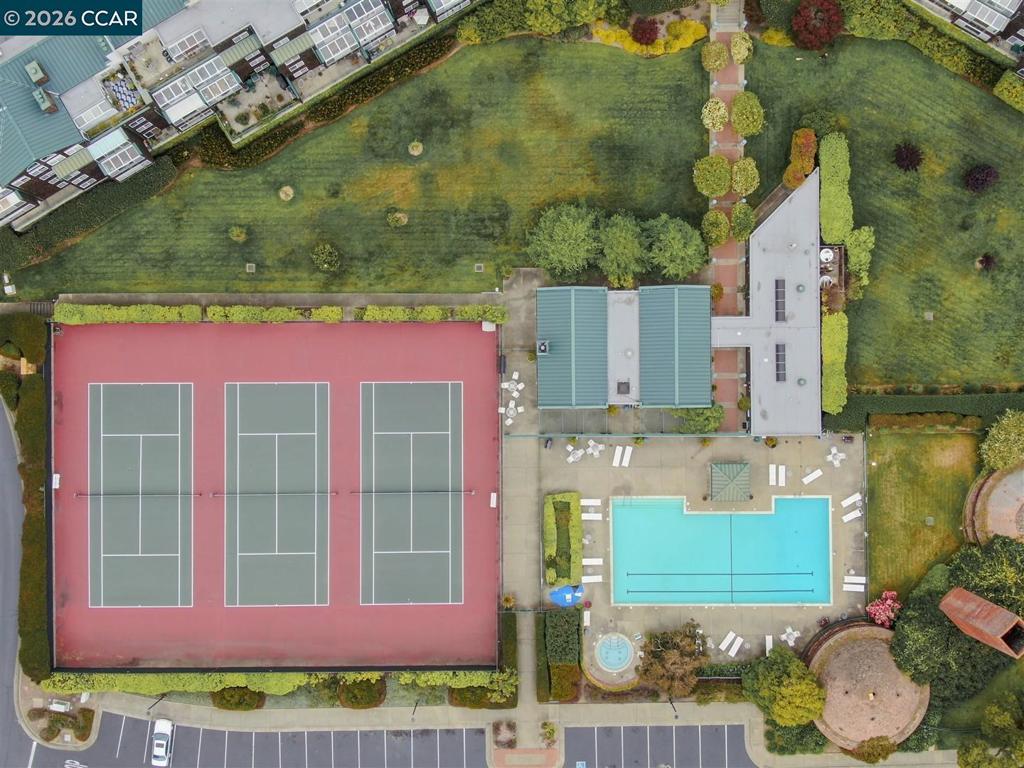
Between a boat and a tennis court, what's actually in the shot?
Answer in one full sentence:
The one in the frame is a tennis court.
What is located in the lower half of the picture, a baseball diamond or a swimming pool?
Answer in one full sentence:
You can see a swimming pool in the lower half of the picture.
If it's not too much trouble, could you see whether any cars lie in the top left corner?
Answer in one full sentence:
No, in the top left corner there is no car.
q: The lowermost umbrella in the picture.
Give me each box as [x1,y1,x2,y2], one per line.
[550,585,584,607]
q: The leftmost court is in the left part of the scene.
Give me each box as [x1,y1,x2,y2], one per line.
[74,383,203,607]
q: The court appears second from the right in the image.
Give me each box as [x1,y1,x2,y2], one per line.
[212,382,339,606]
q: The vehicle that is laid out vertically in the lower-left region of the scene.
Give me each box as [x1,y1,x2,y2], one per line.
[151,718,175,766]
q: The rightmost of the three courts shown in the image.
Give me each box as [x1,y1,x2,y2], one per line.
[349,381,474,605]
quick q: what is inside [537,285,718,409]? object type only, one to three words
building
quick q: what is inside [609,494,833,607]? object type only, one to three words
swimming pool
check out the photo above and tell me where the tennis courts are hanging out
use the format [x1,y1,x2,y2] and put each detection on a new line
[74,383,203,607]
[349,381,474,605]
[212,382,339,606]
